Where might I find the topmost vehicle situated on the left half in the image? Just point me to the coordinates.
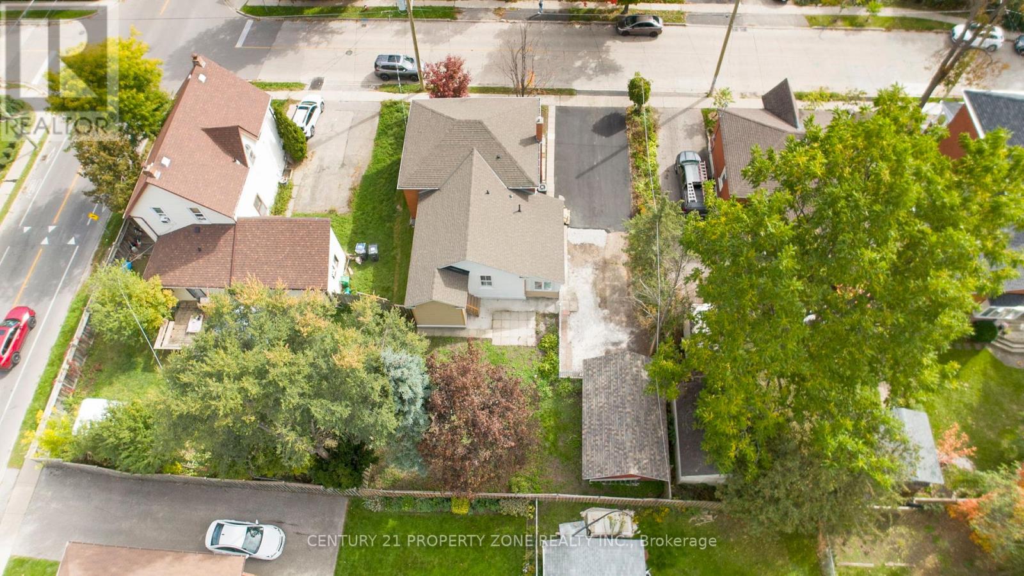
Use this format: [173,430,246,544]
[373,58,423,83]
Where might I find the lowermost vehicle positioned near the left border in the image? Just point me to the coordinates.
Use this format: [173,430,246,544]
[0,312,40,369]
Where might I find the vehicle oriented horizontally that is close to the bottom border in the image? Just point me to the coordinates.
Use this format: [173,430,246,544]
[205,522,286,560]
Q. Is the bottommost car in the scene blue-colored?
No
